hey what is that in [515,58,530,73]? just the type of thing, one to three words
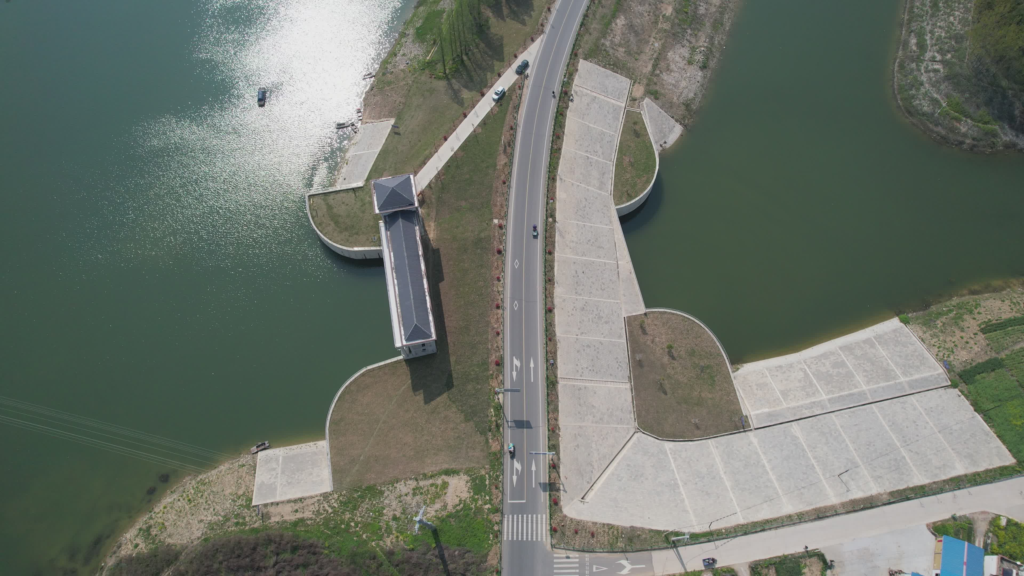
car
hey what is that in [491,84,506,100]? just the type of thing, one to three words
car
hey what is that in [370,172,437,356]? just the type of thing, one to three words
building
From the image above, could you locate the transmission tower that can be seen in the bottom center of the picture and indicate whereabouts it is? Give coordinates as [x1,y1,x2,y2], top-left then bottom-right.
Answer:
[409,505,439,536]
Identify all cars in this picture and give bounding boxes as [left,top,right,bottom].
[515,58,530,73]
[491,84,506,100]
